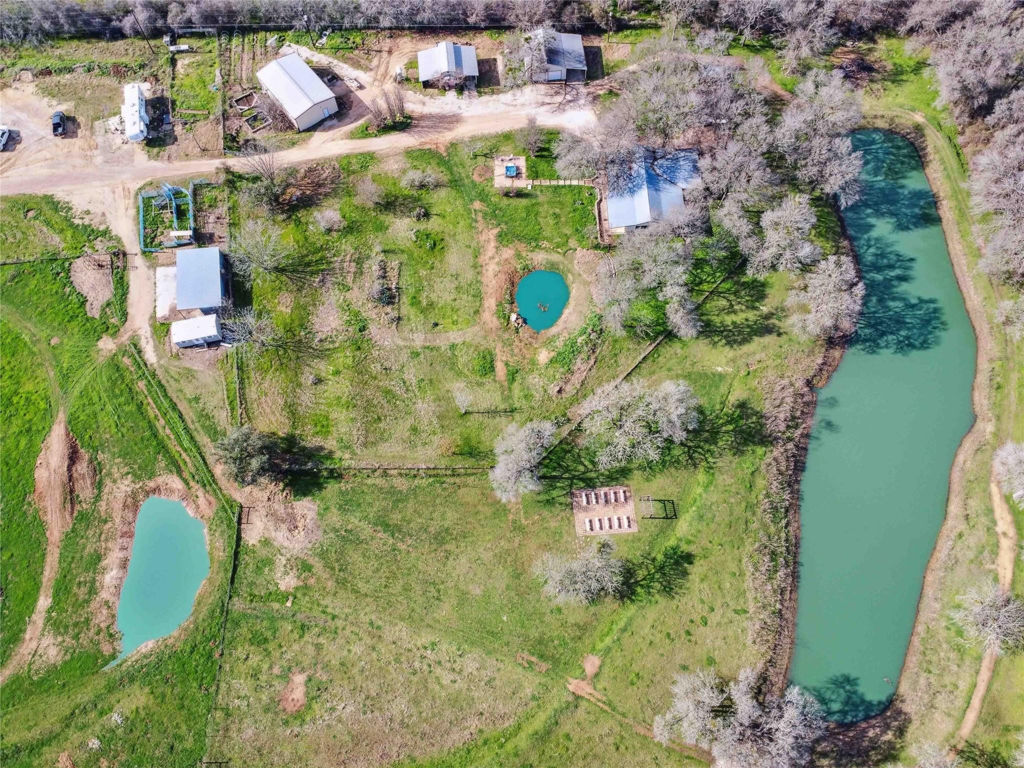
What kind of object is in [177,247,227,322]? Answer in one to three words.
barn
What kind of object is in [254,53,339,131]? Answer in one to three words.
building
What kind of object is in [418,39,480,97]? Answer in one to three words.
house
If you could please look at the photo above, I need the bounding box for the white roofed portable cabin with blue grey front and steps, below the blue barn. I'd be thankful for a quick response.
[172,316,225,357]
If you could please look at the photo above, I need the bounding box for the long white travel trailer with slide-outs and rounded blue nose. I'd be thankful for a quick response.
[122,84,152,146]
